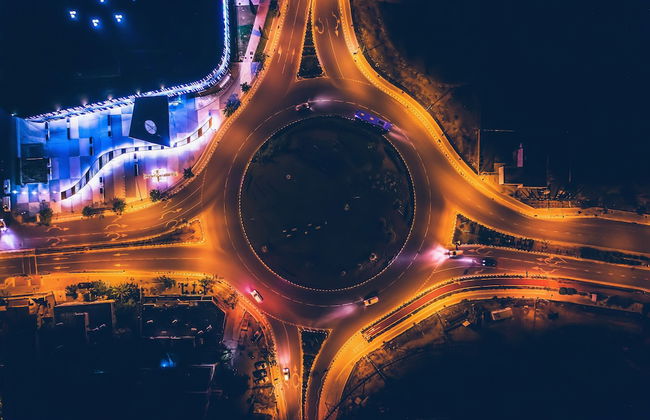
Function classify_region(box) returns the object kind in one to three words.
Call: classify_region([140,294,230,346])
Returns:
building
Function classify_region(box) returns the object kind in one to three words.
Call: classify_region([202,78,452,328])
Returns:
roundabout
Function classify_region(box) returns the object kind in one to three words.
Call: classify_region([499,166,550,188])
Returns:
building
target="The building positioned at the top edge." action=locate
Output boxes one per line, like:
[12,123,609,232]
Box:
[0,0,235,126]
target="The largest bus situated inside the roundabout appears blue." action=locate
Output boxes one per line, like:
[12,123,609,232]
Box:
[355,110,392,133]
